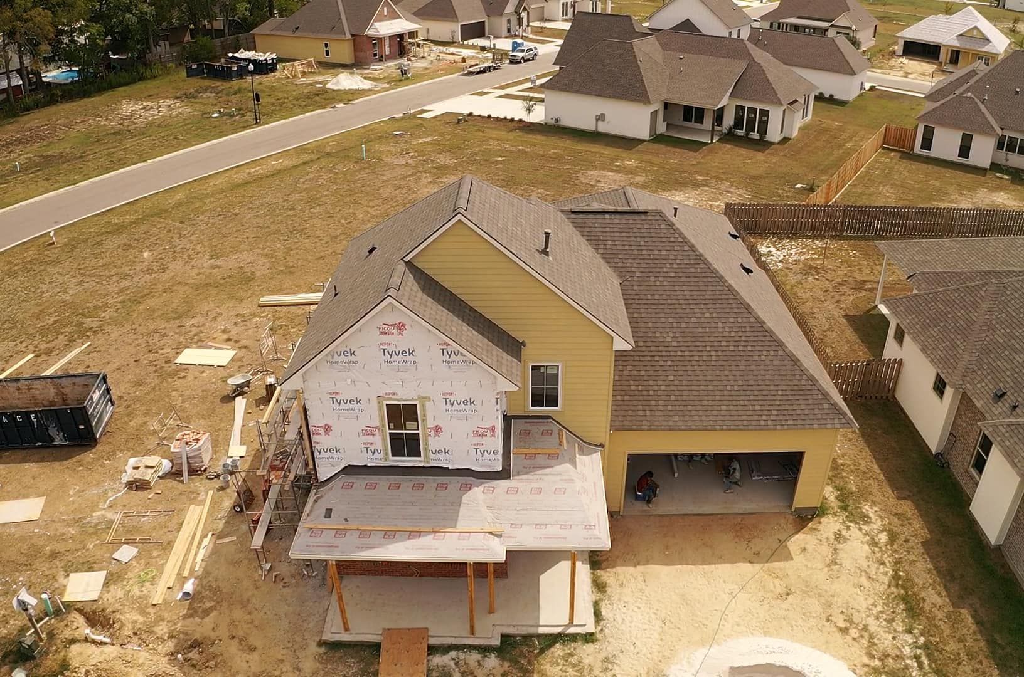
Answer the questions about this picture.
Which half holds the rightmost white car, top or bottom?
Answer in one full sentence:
The rightmost white car sits in the top half of the picture.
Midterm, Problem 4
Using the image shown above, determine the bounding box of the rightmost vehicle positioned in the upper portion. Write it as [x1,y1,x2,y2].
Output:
[506,40,540,61]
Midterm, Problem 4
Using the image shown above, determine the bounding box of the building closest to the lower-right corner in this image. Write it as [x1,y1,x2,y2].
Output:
[874,237,1024,560]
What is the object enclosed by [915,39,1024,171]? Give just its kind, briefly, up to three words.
house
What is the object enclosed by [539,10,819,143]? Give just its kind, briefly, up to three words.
house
